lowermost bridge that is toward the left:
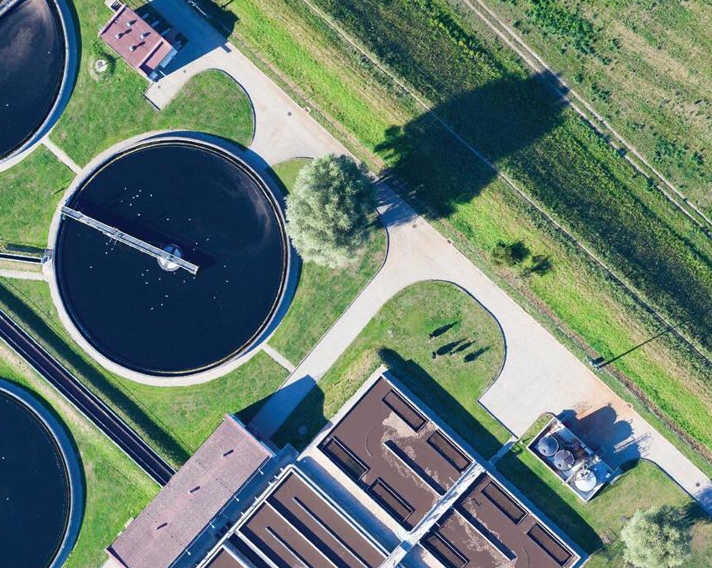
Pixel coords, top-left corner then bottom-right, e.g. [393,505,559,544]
[61,205,200,272]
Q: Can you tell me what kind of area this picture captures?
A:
industrial area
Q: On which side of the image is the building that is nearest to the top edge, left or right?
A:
left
